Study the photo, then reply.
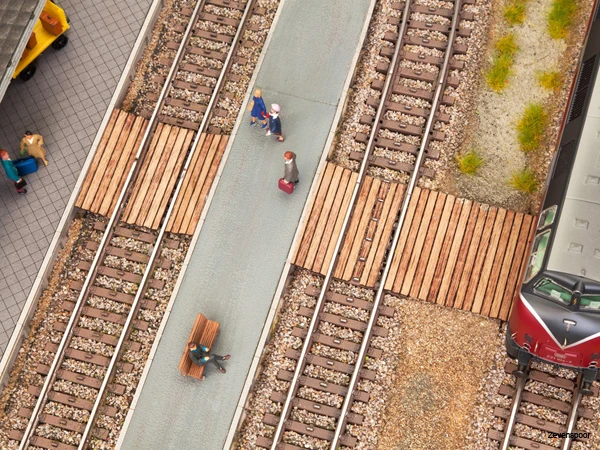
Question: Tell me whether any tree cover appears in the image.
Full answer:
No, the picture contains no tree cover.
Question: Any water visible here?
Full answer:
No, there is no water in the image.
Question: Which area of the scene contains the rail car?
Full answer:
The rail car is in the right part of the image.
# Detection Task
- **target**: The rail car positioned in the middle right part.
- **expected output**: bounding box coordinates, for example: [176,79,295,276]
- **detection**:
[506,0,600,396]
